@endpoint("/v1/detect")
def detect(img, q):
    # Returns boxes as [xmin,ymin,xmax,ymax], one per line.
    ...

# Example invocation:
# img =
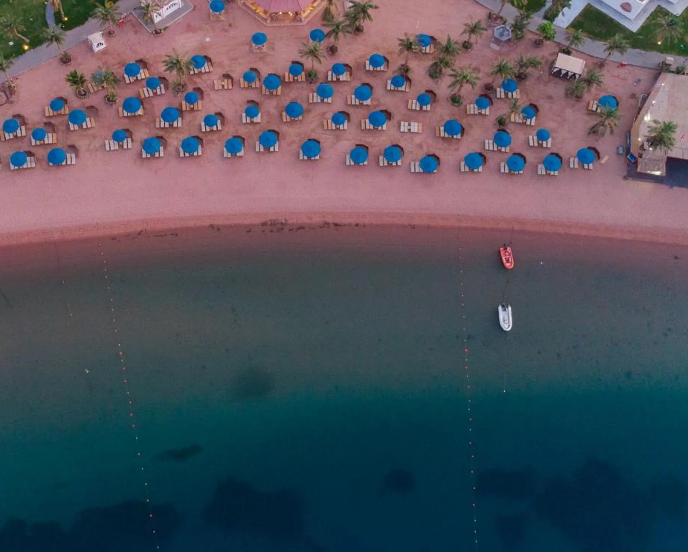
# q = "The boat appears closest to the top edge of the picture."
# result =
[500,245,514,270]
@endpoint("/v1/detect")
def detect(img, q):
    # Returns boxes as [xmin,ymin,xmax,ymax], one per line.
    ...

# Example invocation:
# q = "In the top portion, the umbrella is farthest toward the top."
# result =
[209,0,225,13]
